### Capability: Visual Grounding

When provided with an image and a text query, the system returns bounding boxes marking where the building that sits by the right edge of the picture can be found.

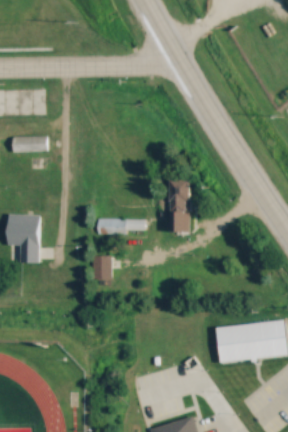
[216,320,288,364]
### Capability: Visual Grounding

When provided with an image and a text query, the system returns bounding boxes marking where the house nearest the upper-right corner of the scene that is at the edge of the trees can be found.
[170,179,194,236]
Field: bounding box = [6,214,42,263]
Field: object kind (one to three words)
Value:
house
